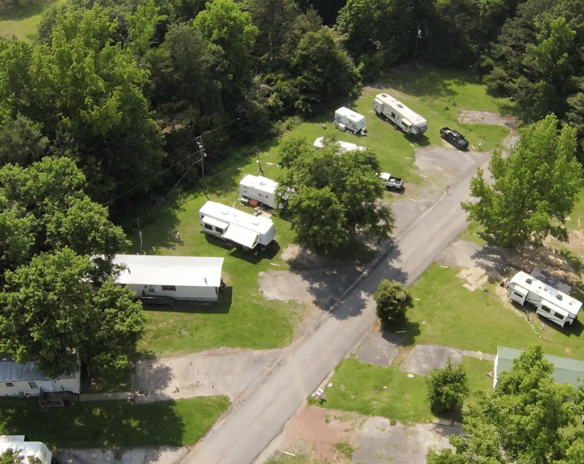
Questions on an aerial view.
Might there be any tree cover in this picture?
Yes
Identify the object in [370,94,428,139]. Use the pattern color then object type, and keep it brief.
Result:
white trailer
